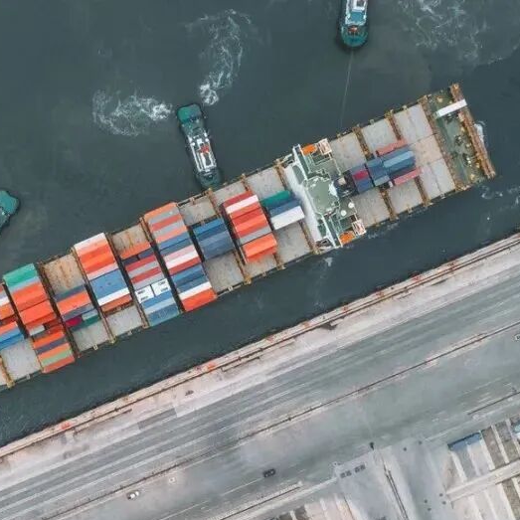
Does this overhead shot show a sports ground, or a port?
port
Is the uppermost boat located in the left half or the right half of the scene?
right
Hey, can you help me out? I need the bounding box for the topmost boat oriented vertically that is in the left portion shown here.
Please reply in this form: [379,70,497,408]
[179,104,220,186]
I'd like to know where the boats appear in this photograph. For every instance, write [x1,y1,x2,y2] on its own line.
[302,142,319,154]
[339,0,372,46]
[0,191,21,237]
[340,229,356,241]
[179,104,220,186]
